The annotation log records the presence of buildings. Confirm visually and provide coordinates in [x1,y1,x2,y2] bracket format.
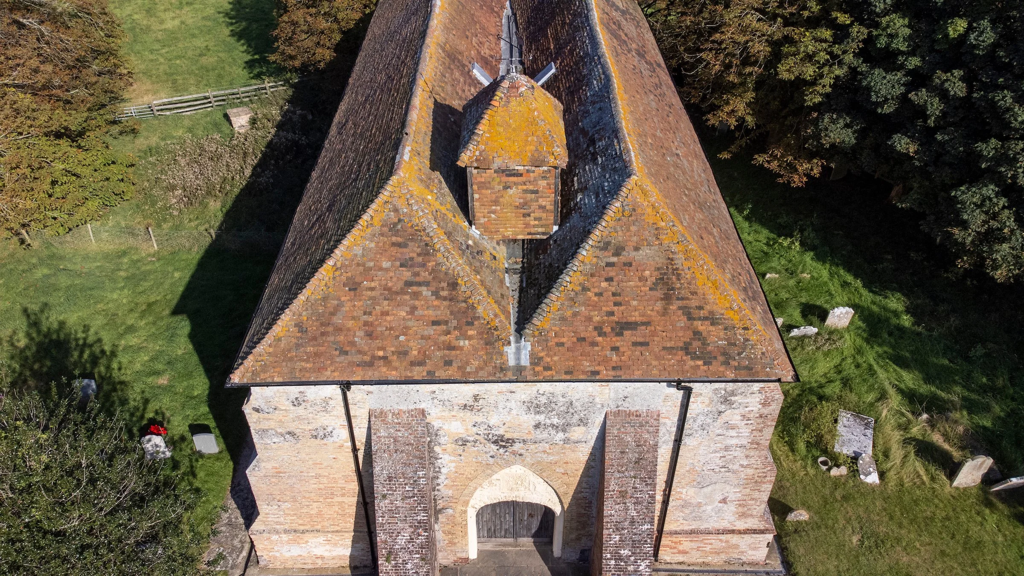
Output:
[221,0,802,576]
